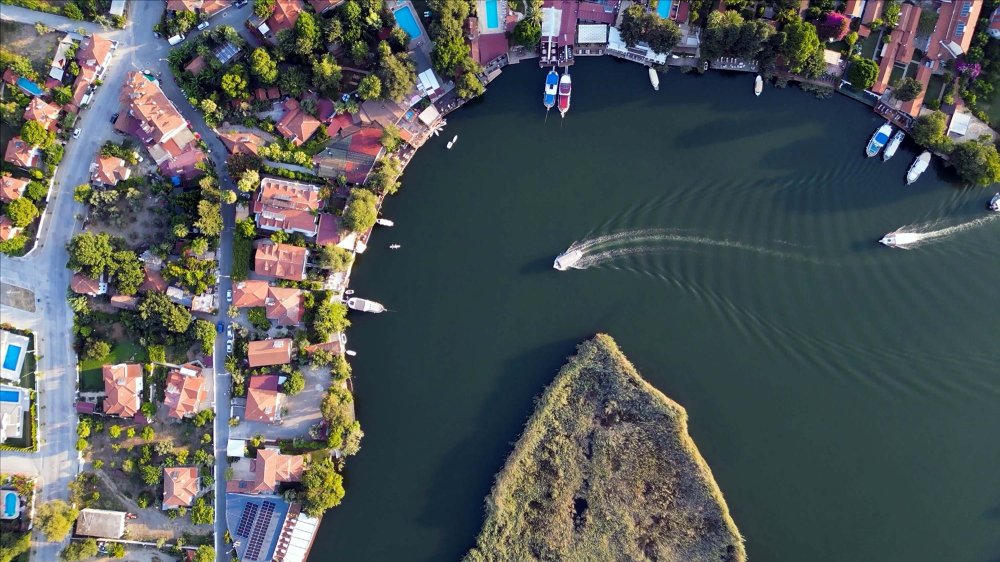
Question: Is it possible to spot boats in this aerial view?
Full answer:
Yes, a boat is visible in the scene.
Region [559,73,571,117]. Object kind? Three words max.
boat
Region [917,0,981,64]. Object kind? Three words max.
building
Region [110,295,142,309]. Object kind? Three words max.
house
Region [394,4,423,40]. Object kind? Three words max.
swimming pool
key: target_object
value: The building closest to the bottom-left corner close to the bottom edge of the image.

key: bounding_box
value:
[75,507,130,540]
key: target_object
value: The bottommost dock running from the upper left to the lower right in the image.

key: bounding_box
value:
[874,103,916,134]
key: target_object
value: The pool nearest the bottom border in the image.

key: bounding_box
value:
[2,490,20,520]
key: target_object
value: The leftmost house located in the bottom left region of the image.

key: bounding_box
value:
[0,398,32,439]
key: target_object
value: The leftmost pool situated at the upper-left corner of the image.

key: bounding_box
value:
[17,77,45,97]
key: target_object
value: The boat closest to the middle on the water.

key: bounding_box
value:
[552,248,586,269]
